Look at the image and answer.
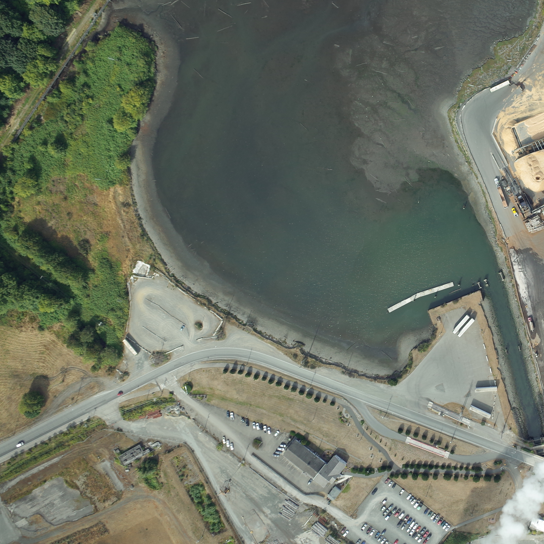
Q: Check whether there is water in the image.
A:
Yes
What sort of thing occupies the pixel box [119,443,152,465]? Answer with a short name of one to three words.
house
